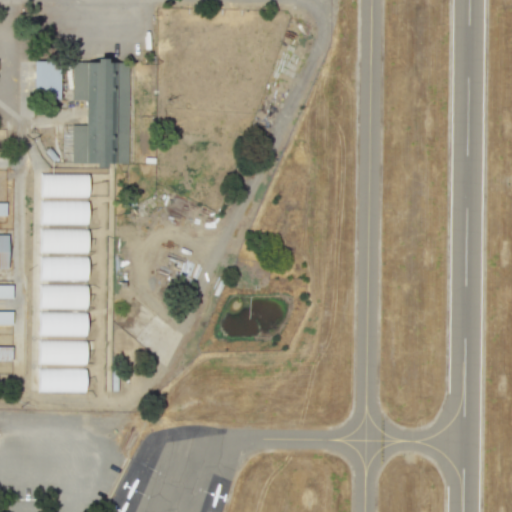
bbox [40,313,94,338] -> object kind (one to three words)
barn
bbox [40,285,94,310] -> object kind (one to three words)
barn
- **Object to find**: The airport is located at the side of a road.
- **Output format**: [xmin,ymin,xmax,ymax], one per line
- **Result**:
[110,0,490,512]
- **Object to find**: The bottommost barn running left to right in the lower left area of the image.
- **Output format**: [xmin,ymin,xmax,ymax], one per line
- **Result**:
[38,369,93,394]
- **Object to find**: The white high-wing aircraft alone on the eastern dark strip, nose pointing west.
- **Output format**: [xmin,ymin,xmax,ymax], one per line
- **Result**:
[212,484,229,508]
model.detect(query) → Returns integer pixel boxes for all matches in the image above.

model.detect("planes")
[212,484,229,508]
[121,479,140,502]
[112,501,130,512]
